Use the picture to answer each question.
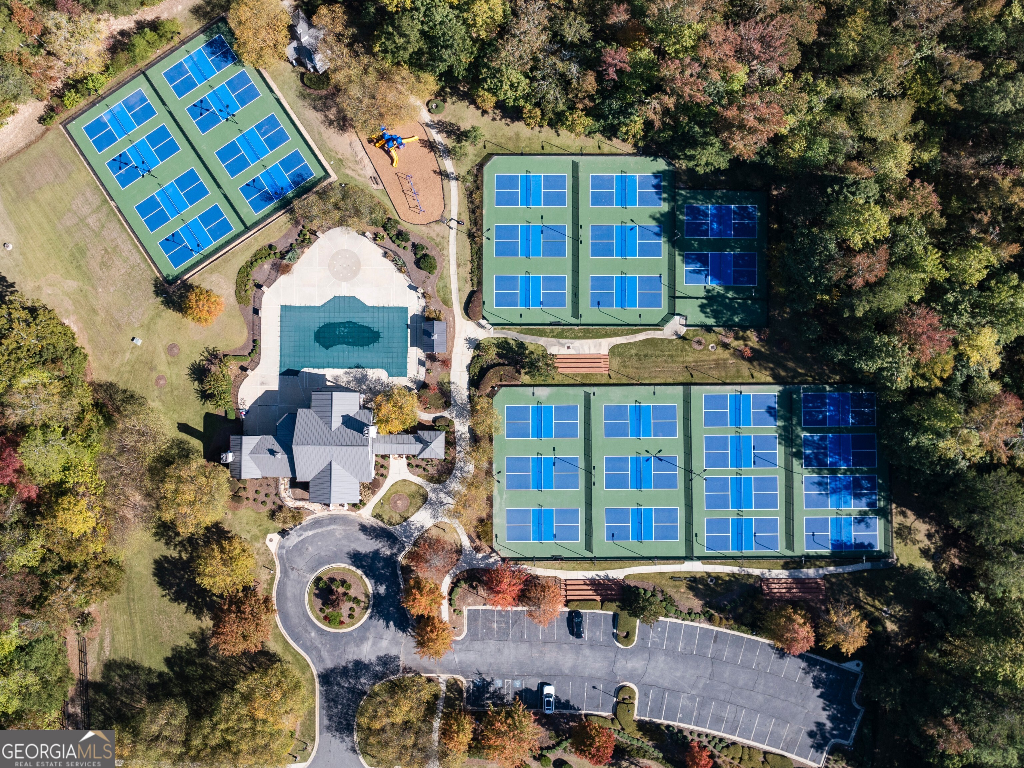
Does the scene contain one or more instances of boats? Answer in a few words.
No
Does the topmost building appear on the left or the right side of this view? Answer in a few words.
left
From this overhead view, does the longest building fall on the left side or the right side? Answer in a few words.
left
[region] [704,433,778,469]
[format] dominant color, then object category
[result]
blue sports court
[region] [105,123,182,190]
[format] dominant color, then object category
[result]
blue sports court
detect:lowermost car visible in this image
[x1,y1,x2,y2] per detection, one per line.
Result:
[542,686,555,715]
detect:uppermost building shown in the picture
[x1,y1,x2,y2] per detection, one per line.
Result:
[287,9,334,74]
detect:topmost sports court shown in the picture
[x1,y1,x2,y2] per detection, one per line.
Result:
[161,33,238,100]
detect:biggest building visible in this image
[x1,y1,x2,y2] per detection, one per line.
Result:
[222,392,445,510]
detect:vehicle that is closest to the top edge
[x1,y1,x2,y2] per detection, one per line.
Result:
[573,612,585,640]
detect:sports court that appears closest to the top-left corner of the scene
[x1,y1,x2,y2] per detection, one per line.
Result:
[81,87,159,154]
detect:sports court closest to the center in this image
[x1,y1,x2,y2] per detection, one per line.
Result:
[505,403,579,439]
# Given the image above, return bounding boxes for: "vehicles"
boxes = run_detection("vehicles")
[542,686,555,715]
[573,612,585,640]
